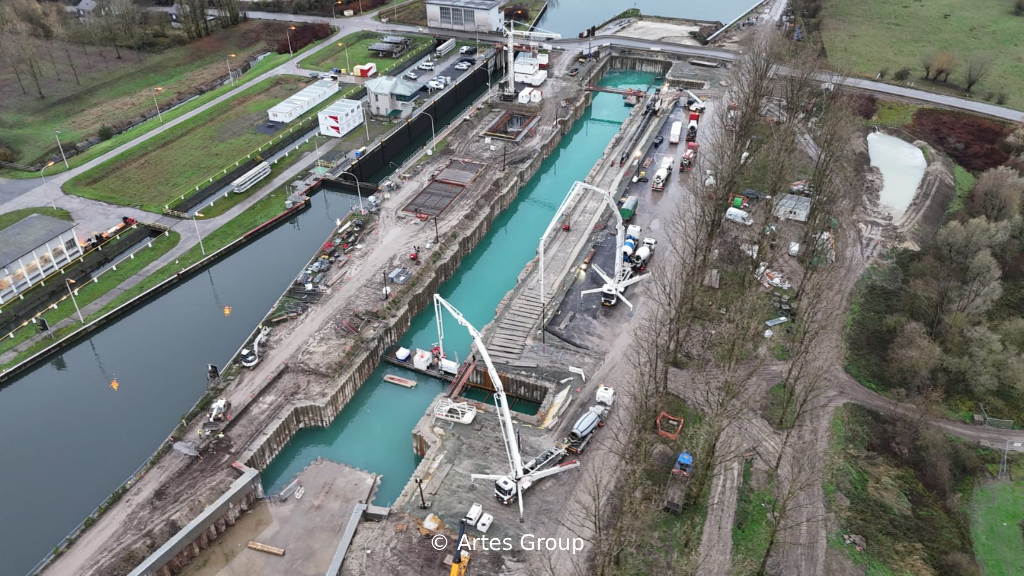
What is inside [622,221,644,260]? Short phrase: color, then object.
white truck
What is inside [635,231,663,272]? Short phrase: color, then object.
white truck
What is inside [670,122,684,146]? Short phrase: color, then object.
white vehicle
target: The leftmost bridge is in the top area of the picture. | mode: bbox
[140,207,189,235]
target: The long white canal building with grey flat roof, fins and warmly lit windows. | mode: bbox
[0,215,88,311]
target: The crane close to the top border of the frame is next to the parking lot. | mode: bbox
[496,7,567,104]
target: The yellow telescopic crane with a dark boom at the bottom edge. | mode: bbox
[449,516,471,576]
